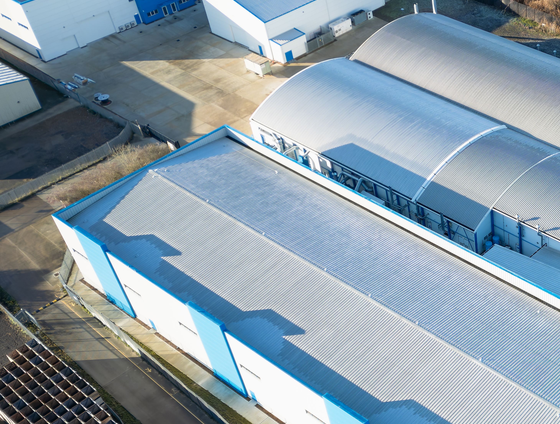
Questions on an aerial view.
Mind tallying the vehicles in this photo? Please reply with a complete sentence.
There are no vehicles in the image.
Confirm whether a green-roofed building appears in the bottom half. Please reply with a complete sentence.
No, in the bottom half there is no green-roofed building.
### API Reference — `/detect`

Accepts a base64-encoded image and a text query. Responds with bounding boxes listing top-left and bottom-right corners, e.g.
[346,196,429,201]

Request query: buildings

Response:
[0,0,199,61]
[55,128,560,424]
[244,53,271,77]
[202,0,385,63]
[350,0,560,147]
[0,61,41,126]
